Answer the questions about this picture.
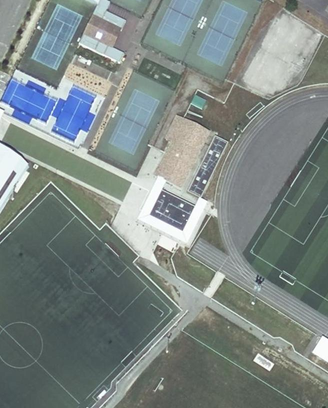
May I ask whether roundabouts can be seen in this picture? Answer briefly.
No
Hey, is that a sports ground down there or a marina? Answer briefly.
sports ground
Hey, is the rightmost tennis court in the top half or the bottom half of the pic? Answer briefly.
top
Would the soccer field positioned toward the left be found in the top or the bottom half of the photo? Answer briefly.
bottom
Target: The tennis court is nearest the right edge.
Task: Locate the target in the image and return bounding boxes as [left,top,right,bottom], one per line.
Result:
[182,0,262,81]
